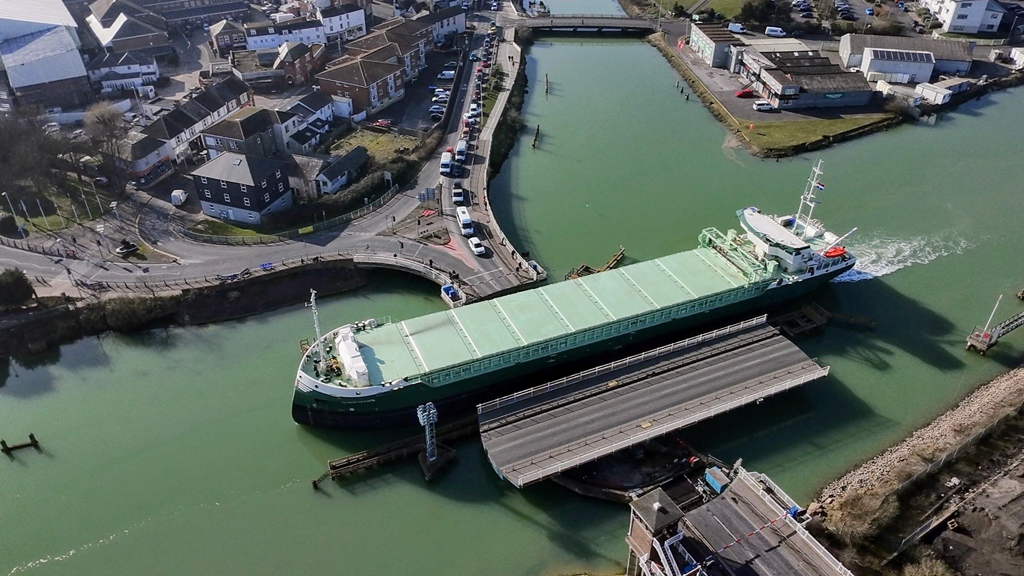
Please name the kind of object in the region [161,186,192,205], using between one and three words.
vehicle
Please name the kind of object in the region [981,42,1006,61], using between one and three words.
shed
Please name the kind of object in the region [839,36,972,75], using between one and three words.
building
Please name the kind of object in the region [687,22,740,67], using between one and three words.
building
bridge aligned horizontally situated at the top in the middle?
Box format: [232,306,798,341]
[516,14,676,35]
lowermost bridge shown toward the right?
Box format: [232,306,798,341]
[476,315,831,492]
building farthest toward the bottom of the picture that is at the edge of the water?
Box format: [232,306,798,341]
[621,489,684,576]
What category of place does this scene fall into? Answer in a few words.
port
